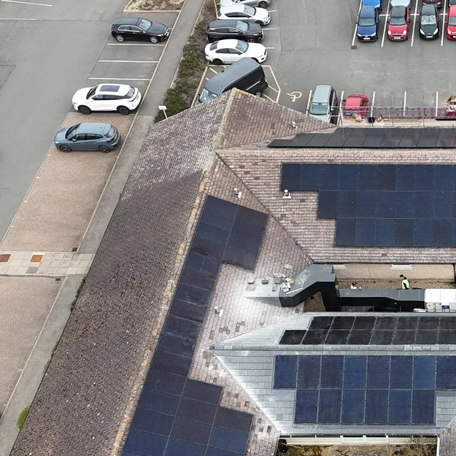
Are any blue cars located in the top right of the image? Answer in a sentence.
Yes, a blue car can be seen in the top right of the image.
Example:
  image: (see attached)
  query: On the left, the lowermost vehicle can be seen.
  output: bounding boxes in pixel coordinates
[54,121,119,152]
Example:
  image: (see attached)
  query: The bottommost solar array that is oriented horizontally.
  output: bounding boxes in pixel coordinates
[272,356,456,425]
